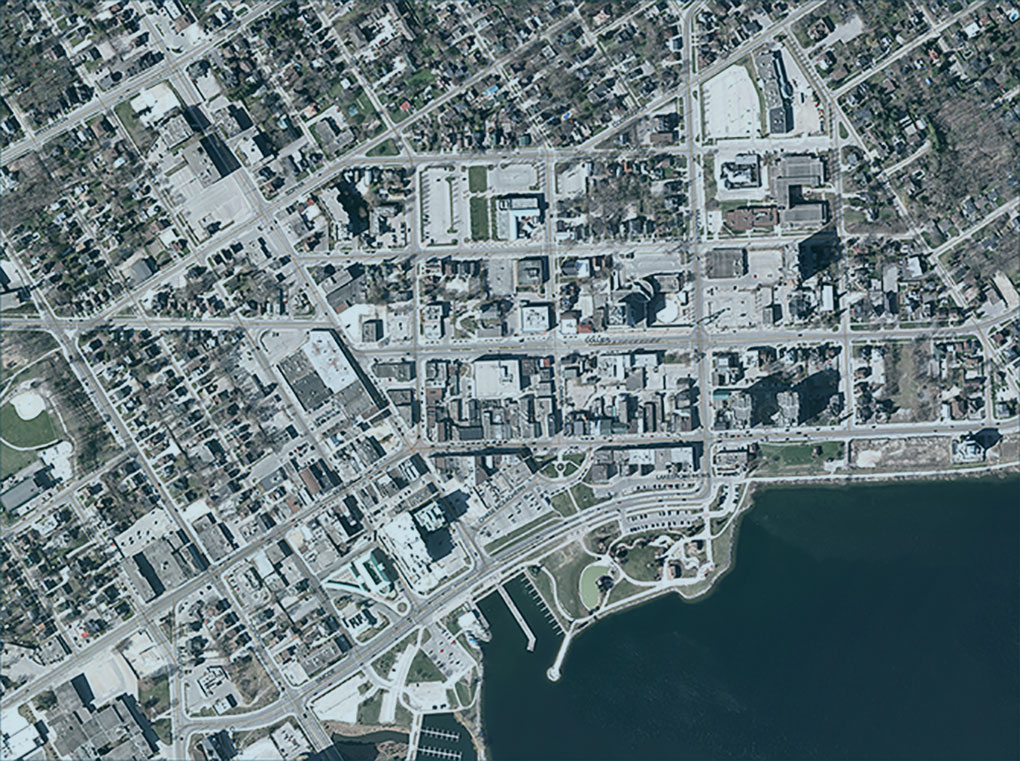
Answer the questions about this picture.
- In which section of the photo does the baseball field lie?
left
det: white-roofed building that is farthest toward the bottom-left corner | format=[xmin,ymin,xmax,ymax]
[0,708,41,760]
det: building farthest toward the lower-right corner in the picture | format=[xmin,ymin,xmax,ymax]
[955,440,983,460]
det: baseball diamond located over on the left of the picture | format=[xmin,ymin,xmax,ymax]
[0,390,55,448]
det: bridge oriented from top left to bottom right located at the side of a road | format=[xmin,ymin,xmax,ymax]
[283,692,338,761]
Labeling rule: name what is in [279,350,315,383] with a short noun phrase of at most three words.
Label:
building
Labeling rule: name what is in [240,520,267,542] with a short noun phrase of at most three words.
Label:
building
